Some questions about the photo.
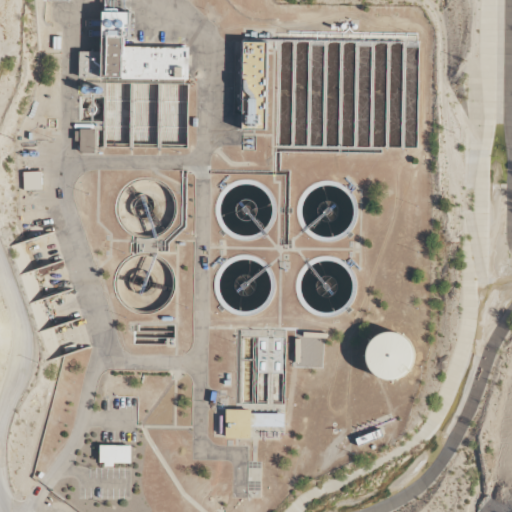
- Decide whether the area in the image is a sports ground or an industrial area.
industrial area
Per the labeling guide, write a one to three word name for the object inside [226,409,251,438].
building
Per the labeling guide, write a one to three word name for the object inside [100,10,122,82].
building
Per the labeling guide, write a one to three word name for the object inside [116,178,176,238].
water tank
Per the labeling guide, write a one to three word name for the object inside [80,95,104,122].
water tank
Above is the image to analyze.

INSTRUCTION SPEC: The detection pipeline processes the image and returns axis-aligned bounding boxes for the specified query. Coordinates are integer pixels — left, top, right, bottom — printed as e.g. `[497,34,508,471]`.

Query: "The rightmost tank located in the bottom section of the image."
[364,330,416,386]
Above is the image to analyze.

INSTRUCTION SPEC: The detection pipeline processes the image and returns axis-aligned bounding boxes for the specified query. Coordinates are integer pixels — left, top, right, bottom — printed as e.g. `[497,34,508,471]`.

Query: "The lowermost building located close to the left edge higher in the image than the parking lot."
[23,168,42,190]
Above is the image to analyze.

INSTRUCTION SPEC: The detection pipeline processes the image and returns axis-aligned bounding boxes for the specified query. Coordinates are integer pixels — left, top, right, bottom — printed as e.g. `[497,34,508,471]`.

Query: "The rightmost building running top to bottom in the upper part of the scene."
[242,41,267,130]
